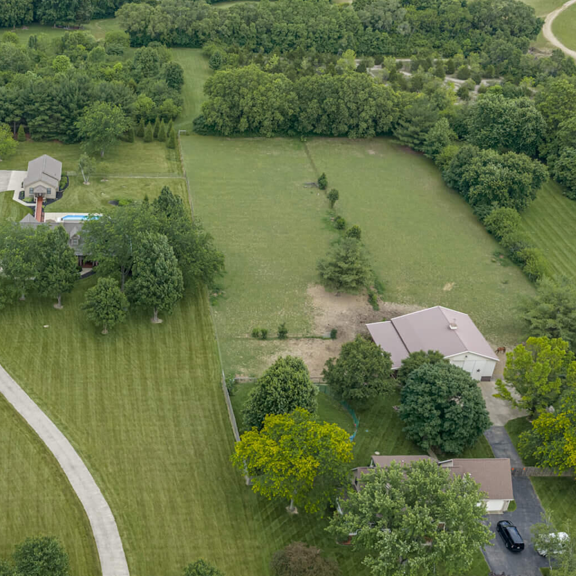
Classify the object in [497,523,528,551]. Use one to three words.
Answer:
car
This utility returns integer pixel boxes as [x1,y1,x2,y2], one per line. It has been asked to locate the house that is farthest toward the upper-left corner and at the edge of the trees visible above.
[21,153,63,202]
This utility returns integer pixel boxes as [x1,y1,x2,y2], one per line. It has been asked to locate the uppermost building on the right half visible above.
[361,305,500,381]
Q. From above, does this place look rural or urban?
rural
